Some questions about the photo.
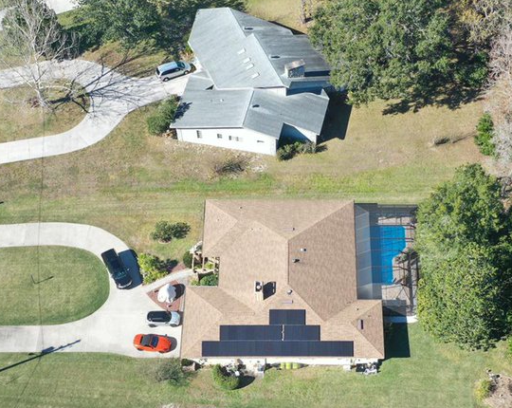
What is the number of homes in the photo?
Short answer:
2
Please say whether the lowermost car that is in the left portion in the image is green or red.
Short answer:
red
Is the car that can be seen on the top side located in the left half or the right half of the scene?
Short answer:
left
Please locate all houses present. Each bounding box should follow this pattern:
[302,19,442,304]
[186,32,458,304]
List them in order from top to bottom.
[170,7,333,150]
[180,199,385,365]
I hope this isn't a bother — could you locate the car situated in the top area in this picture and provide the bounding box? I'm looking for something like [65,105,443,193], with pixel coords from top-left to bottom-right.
[157,59,191,80]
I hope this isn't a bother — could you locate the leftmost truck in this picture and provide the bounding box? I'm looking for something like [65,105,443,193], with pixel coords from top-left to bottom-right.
[101,248,133,286]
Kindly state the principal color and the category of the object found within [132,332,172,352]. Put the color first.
red car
